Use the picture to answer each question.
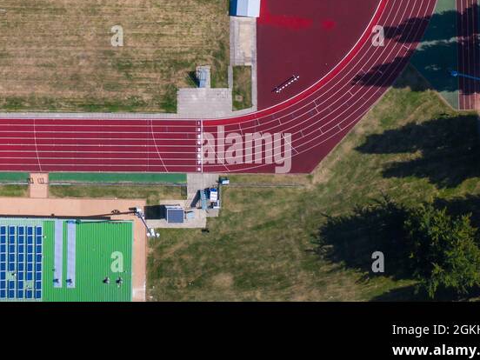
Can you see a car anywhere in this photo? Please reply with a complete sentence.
No, no car can be seen from above.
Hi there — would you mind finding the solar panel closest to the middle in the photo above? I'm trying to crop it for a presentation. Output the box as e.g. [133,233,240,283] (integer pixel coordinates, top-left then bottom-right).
[169,211,185,225]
